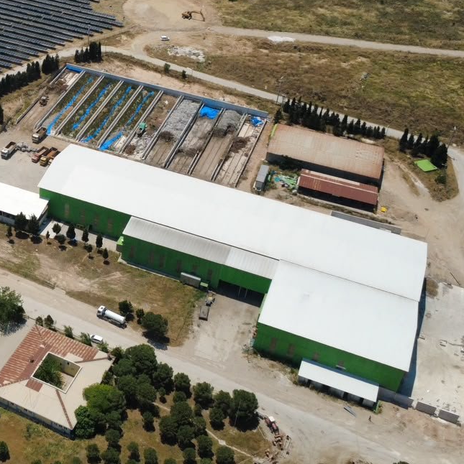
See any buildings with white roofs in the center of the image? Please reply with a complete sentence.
Yes, in the center of the image there is a building with a white roof.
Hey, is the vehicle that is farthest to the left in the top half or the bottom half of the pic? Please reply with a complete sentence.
Seen from above, the vehicle that is farthest to the left lies in the top half of the view.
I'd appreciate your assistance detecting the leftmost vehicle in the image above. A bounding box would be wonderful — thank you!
[2,136,22,156]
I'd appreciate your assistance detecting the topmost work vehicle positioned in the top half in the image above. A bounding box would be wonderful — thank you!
[183,9,210,21]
